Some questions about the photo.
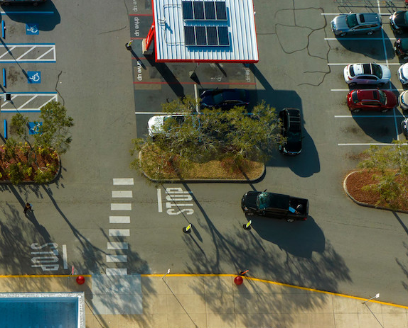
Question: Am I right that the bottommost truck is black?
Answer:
Yes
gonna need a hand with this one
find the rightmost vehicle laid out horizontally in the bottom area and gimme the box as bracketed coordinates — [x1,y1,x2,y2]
[239,189,312,223]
